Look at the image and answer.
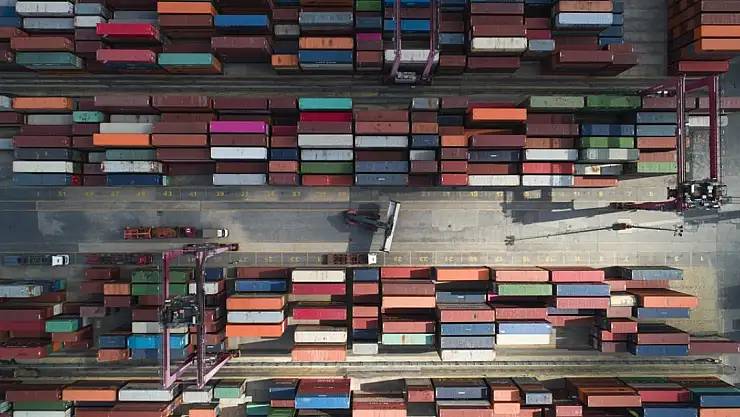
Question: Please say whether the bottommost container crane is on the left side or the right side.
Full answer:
The bottommost container crane appears in the left half of the scene.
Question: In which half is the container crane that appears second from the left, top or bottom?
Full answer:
The top half of the photo is where the container crane that appears second from the left is.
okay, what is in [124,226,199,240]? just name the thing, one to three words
vehicle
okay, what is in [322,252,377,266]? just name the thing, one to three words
vehicle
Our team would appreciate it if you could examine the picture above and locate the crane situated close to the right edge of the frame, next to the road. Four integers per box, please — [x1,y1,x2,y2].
[613,74,723,210]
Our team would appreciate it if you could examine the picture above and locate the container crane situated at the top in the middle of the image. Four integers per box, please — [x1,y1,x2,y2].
[379,0,439,79]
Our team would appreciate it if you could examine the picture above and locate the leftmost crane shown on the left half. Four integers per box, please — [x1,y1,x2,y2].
[154,243,245,390]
